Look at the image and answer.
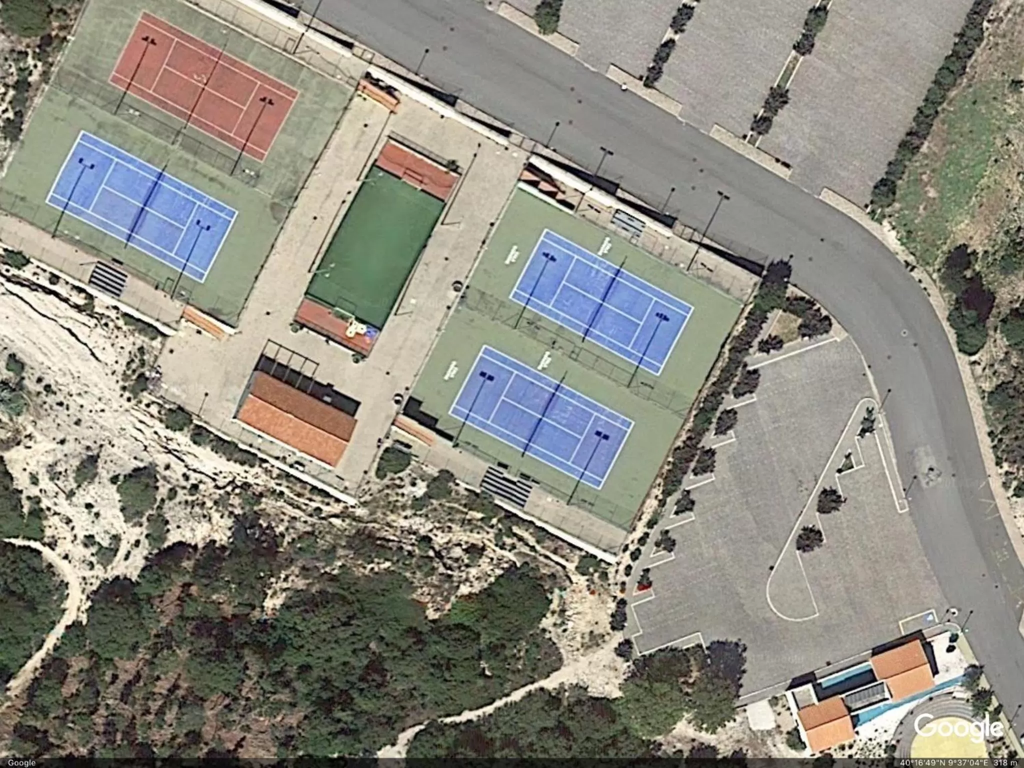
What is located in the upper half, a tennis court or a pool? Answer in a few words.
tennis court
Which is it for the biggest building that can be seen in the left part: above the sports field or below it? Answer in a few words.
below it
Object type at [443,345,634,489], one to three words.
tennis court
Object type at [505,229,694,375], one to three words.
tennis court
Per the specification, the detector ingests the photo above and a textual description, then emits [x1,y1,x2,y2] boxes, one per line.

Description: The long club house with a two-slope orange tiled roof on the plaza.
[231,370,357,470]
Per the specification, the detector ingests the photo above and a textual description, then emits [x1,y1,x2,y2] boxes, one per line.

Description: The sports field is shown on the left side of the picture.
[292,140,462,360]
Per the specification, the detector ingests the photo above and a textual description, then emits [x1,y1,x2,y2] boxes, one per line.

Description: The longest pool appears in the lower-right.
[850,675,966,727]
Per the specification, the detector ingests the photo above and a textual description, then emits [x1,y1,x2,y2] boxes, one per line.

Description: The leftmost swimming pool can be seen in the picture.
[816,664,871,692]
